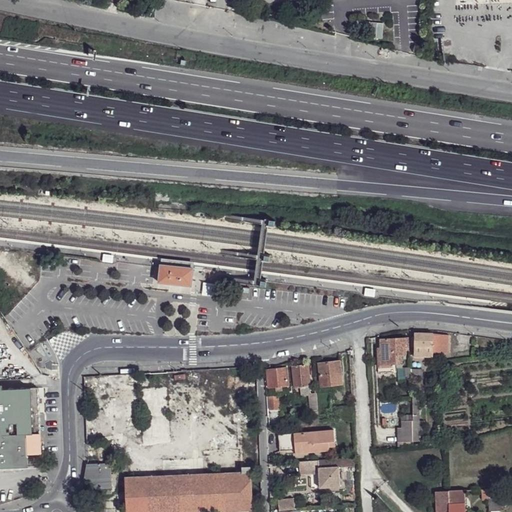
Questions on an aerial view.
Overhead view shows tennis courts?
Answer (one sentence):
No, there's no tennis court here.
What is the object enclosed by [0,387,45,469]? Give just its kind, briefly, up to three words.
building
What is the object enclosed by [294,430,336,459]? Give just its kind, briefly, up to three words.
house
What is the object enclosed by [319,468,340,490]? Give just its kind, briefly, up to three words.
house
